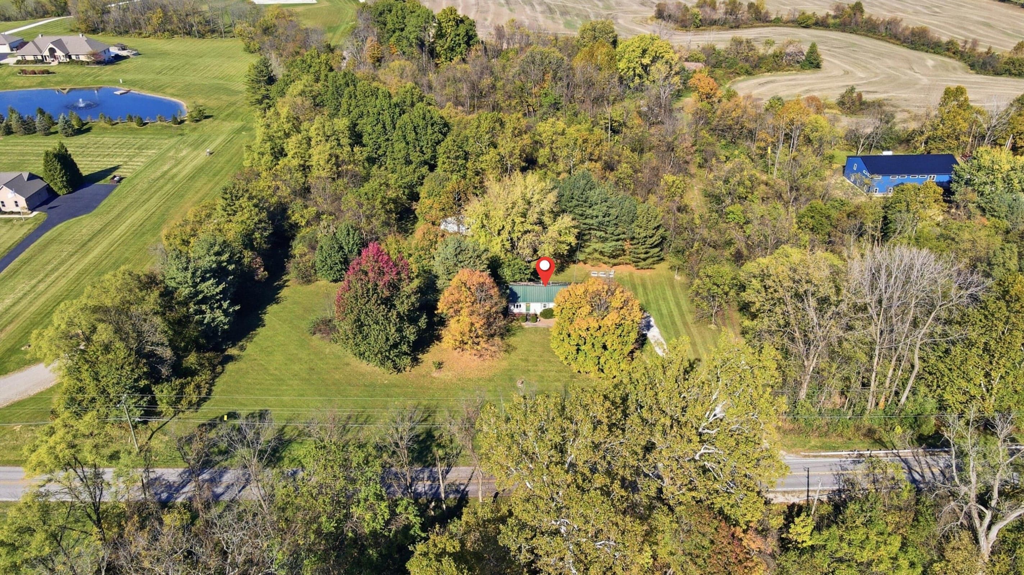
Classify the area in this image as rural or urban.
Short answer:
rural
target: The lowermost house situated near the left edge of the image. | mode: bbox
[0,163,58,212]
